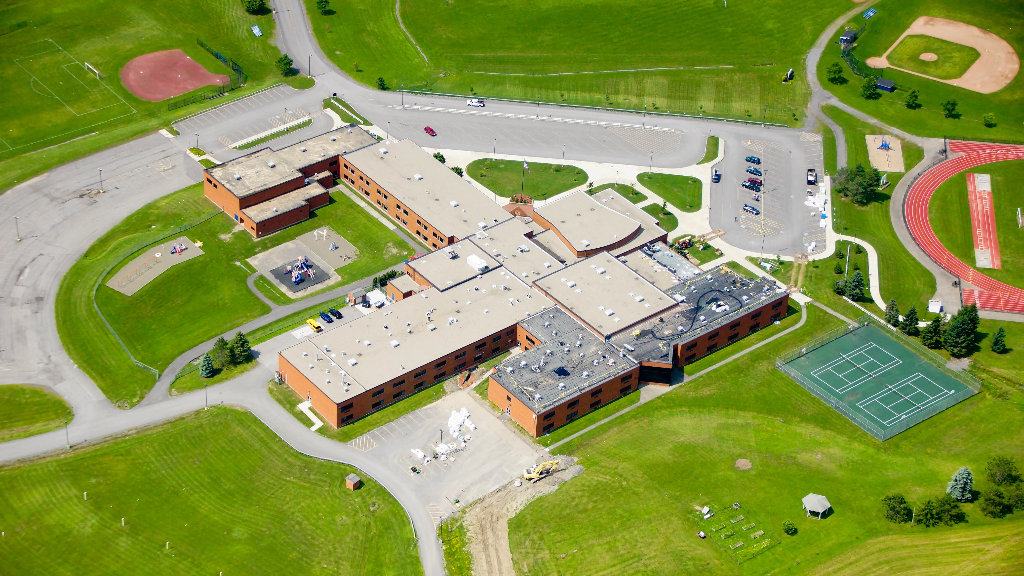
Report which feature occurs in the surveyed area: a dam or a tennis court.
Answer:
tennis court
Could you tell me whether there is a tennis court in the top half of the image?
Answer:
No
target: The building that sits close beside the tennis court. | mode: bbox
[203,124,791,438]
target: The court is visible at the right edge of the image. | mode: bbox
[785,324,977,440]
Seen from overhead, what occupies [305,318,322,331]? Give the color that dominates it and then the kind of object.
yellow vehicle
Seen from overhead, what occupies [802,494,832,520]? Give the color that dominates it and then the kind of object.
white gazebo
